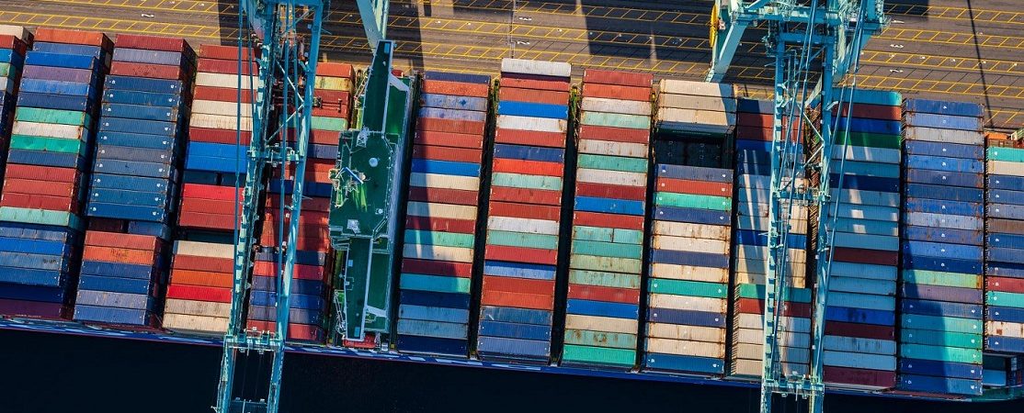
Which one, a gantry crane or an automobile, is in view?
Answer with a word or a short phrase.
gantry crane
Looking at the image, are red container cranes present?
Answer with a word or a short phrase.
No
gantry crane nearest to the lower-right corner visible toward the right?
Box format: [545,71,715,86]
[695,0,901,413]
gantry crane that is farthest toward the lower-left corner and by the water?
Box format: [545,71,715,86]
[218,0,415,413]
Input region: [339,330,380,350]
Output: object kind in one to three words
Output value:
boat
